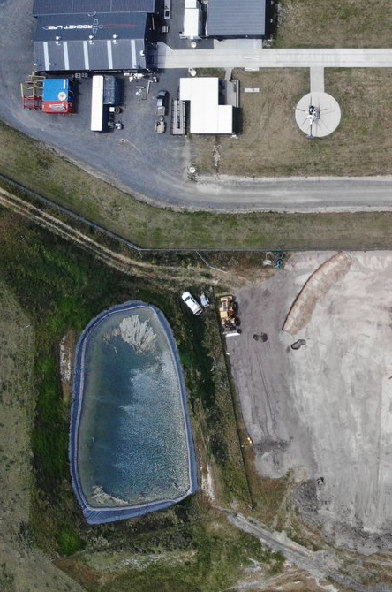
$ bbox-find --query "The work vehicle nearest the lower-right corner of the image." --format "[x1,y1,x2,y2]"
[221,295,239,333]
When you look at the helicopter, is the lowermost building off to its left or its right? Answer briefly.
to the left of it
